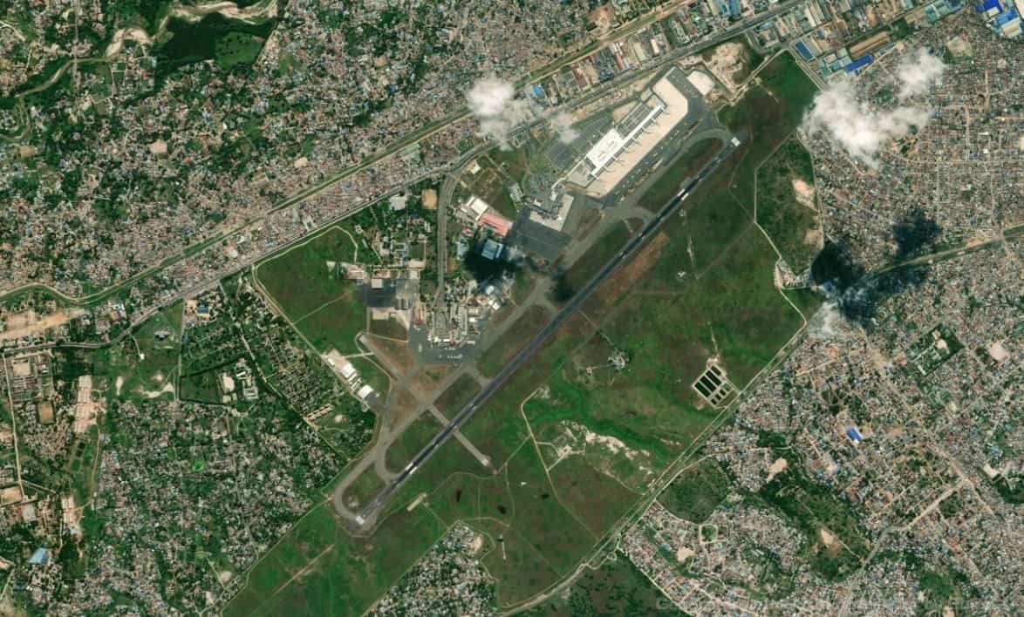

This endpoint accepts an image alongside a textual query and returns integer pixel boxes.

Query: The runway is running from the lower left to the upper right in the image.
[352,132,743,529]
